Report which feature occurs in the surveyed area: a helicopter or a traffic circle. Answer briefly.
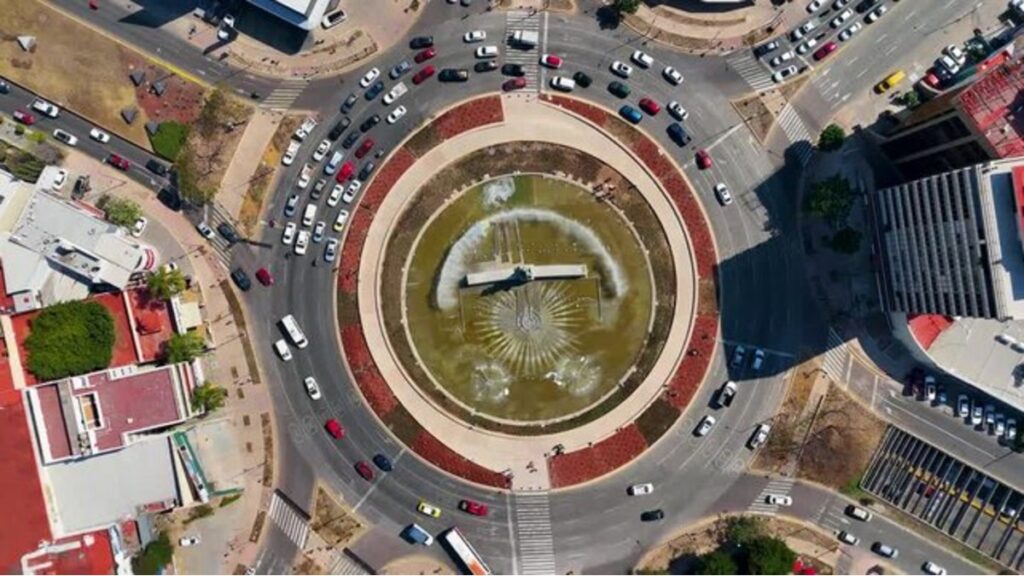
traffic circle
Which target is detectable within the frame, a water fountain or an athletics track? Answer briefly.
water fountain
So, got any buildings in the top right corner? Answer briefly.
Yes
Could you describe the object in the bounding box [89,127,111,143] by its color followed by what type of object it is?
white car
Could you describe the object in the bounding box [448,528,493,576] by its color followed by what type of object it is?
white bus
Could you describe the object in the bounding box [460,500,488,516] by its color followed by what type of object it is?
red vehicle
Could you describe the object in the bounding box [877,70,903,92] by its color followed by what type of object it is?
yellow truck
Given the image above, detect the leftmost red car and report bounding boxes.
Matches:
[12,108,36,126]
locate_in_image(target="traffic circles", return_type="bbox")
[264,29,791,554]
